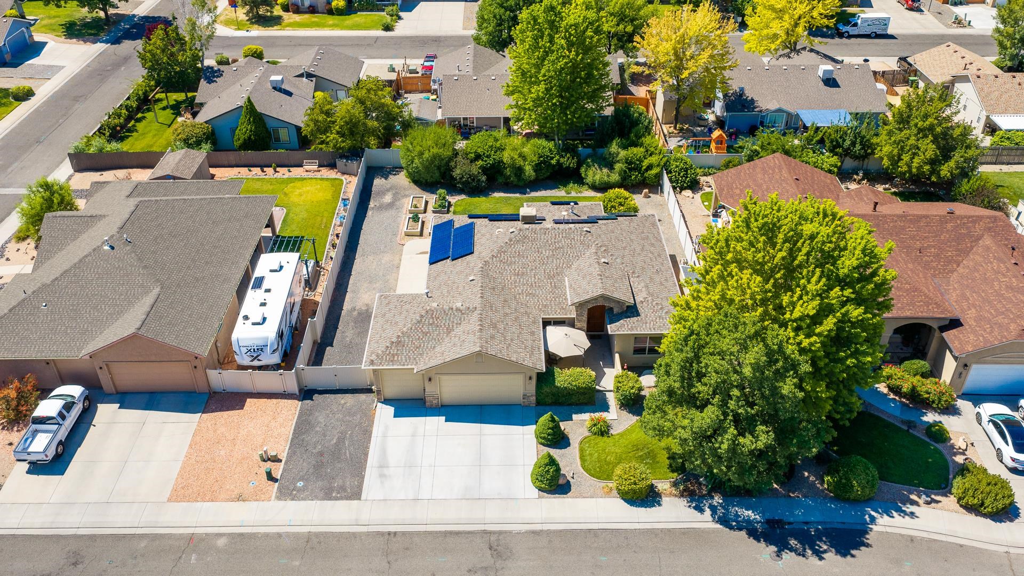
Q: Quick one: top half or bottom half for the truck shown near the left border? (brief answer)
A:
bottom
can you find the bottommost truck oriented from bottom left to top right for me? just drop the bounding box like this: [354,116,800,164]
[9,387,90,471]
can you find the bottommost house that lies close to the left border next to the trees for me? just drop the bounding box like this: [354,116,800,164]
[0,176,277,396]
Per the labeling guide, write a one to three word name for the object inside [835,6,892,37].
truck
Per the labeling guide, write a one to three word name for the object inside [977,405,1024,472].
car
